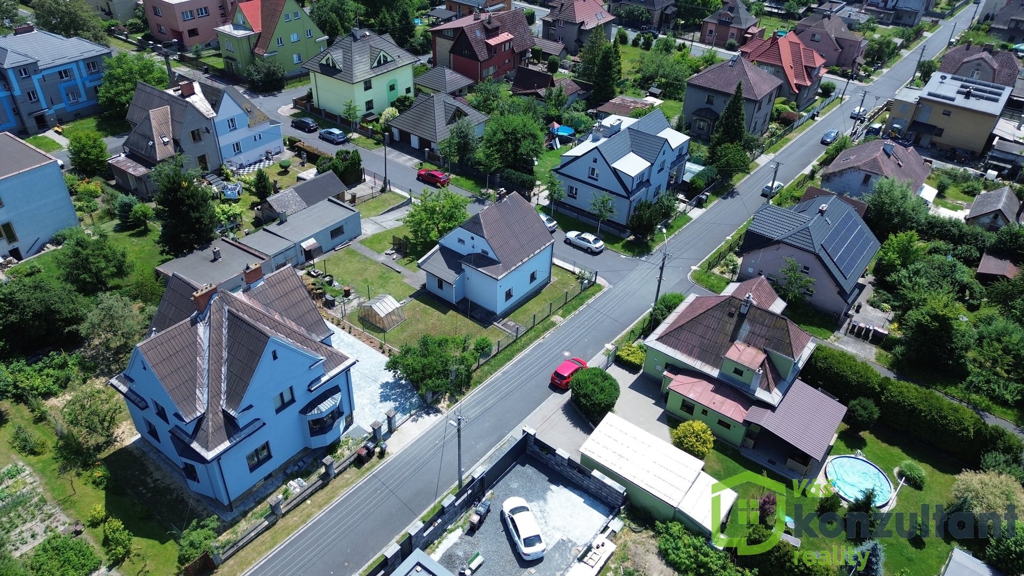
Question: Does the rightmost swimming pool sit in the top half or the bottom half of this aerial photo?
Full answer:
The bottom half of the photo is where the rightmost swimming pool is.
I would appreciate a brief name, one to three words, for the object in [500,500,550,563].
car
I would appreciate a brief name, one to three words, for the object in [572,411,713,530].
building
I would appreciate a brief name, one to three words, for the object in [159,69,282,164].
house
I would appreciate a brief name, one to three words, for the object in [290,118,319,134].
car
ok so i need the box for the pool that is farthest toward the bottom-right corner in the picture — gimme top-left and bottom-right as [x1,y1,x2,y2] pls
[822,452,893,514]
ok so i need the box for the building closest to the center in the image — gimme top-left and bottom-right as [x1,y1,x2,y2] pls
[412,181,558,316]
